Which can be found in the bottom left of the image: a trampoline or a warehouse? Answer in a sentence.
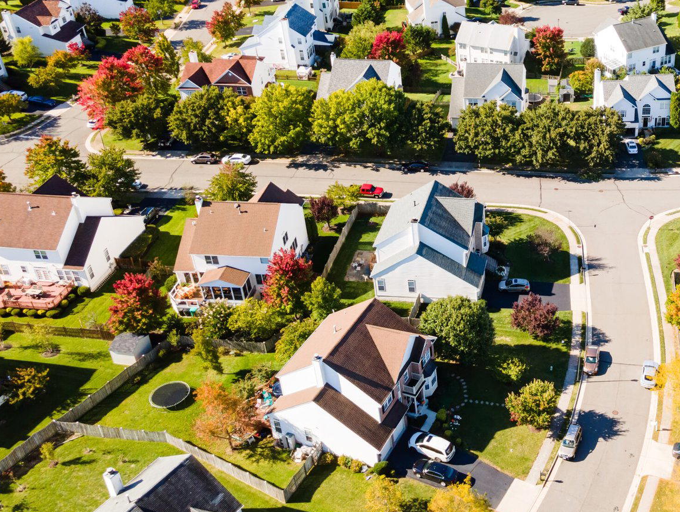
There is a trampoline in the bottom left of the image.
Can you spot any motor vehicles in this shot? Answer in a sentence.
Yes, there is a motor vehicle in the image.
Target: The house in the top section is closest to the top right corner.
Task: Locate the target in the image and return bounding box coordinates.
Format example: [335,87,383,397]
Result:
[594,9,677,79]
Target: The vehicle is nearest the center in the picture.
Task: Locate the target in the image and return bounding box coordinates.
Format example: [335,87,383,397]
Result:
[352,183,385,199]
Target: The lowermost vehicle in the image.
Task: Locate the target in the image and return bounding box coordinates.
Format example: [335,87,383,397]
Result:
[414,464,460,489]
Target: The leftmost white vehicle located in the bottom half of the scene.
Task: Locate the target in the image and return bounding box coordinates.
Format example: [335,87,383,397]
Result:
[409,434,453,461]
